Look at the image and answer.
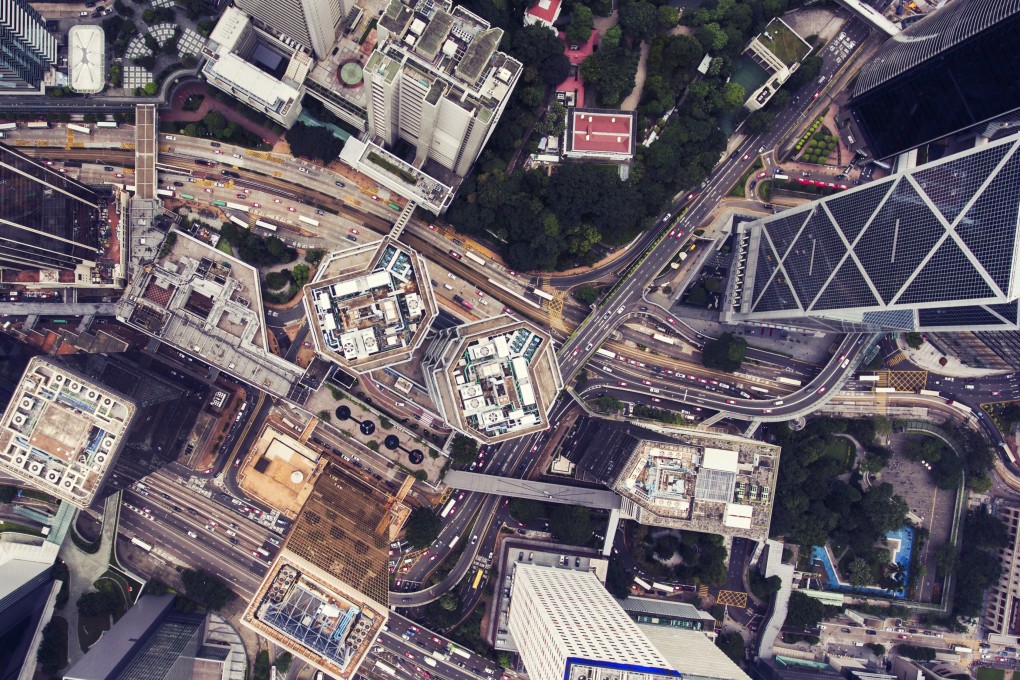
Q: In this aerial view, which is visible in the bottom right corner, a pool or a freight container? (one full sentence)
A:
You can see a pool in the bottom right corner.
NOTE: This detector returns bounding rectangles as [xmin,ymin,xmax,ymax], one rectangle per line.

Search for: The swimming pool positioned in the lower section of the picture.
[810,528,916,599]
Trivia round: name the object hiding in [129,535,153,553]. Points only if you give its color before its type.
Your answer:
white vehicle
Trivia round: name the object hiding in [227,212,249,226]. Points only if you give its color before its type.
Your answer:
white vehicle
